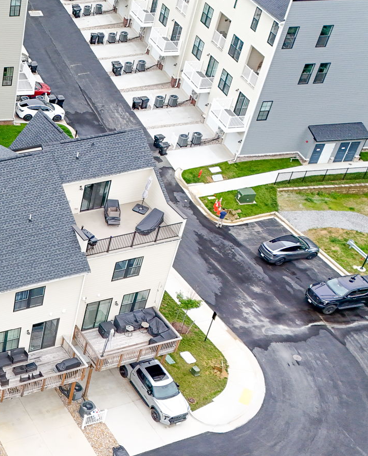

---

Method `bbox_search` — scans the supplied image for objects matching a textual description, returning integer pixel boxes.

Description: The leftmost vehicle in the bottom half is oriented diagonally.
[118,358,192,427]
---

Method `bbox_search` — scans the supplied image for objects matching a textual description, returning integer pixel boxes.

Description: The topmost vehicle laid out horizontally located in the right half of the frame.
[261,232,325,264]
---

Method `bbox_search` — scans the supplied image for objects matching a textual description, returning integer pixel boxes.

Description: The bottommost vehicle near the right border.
[305,272,368,311]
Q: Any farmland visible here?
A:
No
